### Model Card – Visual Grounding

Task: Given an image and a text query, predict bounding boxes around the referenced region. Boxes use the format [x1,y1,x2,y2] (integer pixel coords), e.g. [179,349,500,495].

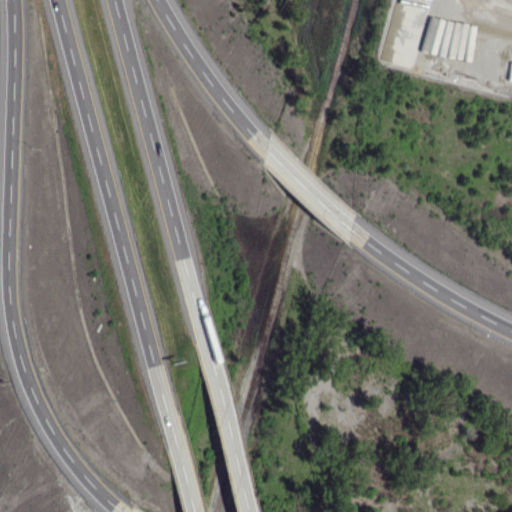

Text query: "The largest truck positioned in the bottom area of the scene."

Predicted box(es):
[198,298,224,363]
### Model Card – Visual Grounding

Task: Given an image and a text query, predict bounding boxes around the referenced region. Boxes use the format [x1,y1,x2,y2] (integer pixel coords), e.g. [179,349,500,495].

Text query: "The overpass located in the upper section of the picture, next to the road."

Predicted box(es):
[258,138,364,240]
